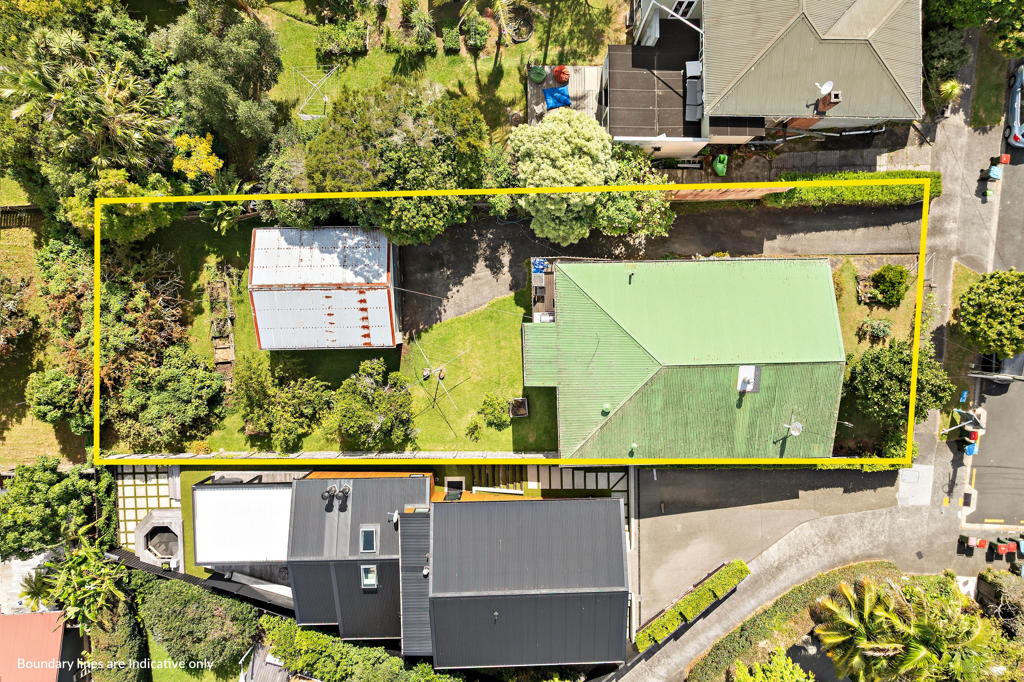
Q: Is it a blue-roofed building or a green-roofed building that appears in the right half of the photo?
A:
green-roofed building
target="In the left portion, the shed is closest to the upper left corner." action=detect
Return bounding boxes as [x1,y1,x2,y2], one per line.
[251,224,403,351]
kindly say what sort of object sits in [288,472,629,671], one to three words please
house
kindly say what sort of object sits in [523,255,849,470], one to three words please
building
